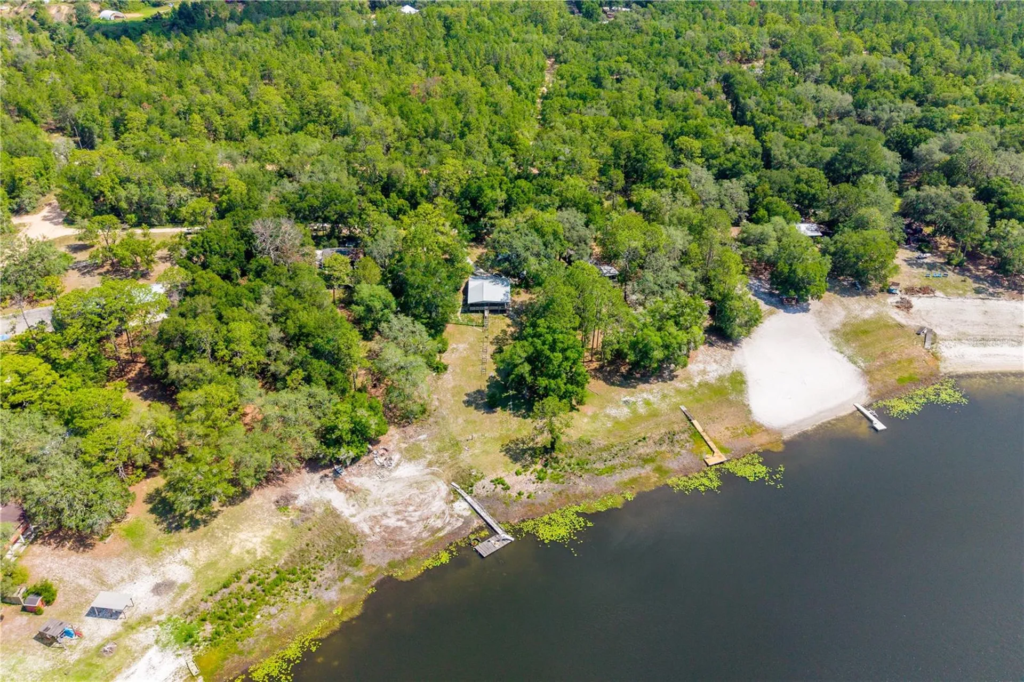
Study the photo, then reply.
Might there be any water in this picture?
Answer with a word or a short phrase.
Yes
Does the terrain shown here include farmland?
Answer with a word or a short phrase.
No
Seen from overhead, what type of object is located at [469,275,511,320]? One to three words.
house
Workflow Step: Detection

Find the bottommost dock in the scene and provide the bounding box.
[450,482,514,561]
